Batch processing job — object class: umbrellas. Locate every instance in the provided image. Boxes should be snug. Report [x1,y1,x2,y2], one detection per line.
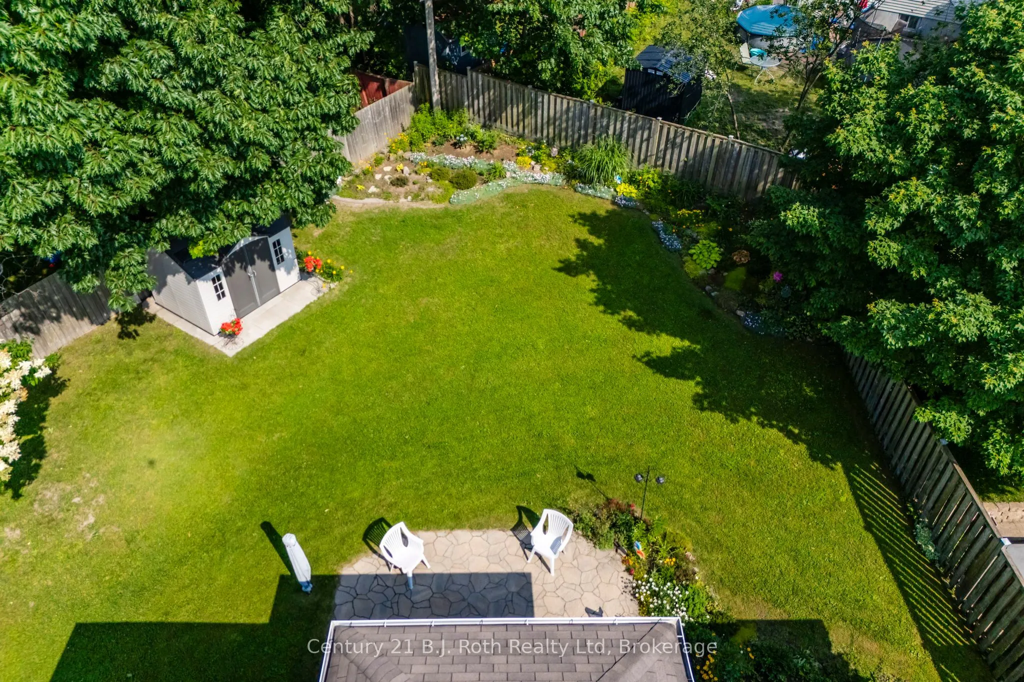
[283,534,312,596]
